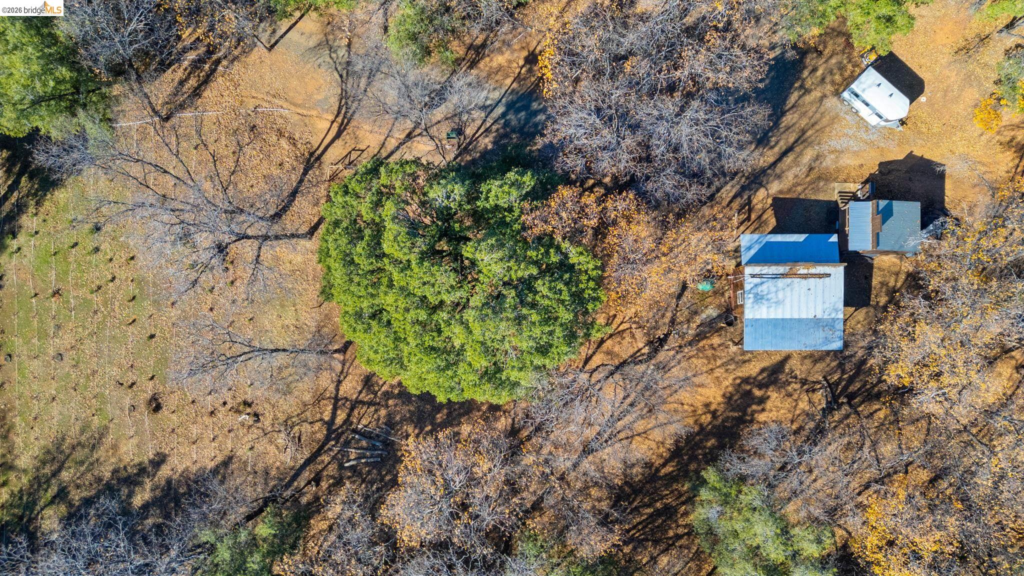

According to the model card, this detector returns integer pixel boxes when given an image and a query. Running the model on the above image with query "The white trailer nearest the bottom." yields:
[839,66,908,132]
